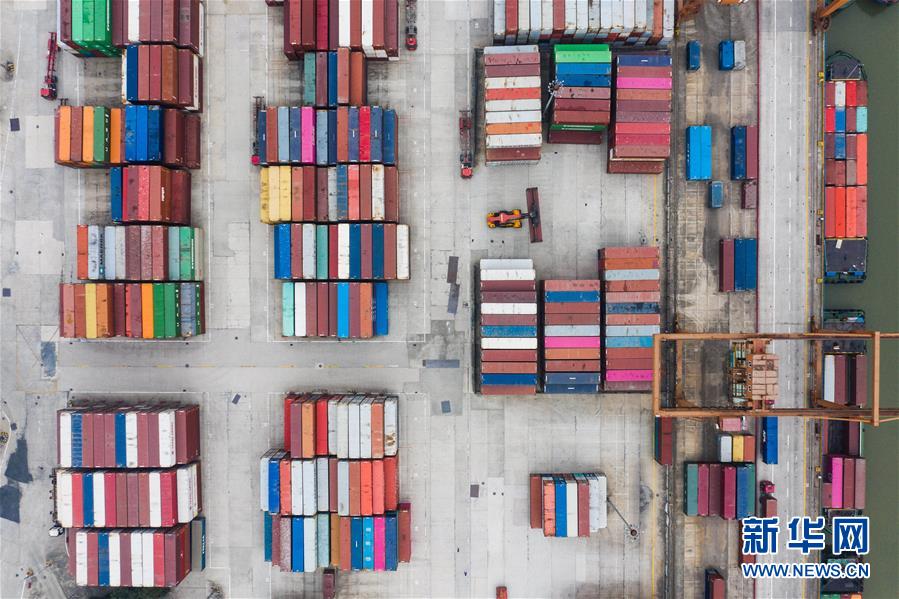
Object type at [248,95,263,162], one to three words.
vehicle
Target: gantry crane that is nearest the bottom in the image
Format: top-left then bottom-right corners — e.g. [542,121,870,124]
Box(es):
[652,316,899,422]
